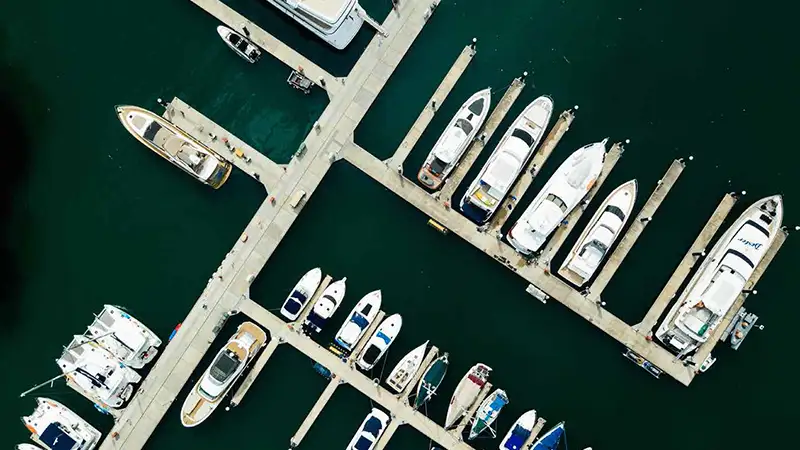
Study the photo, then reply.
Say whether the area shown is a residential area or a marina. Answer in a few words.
marina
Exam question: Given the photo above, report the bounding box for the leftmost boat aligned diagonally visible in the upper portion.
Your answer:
[115,105,234,189]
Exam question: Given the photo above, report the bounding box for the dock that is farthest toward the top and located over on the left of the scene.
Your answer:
[189,0,348,102]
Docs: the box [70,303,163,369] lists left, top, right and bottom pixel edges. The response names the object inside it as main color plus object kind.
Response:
white boat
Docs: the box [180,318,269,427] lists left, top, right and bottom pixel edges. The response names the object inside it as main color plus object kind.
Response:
white boat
